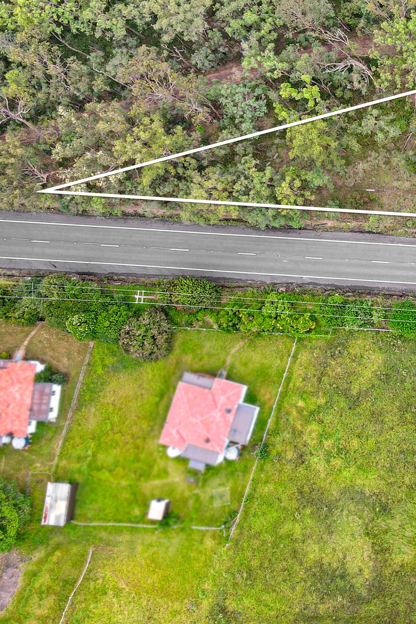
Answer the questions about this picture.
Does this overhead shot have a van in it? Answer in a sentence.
No, no van can be seen from above.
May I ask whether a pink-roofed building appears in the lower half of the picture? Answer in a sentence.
Yes, there is a pink-roofed building in the lower half of the picture.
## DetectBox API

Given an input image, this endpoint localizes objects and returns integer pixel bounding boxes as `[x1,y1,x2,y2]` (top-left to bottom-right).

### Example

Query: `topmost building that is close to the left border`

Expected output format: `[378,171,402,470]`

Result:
[0,345,65,445]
